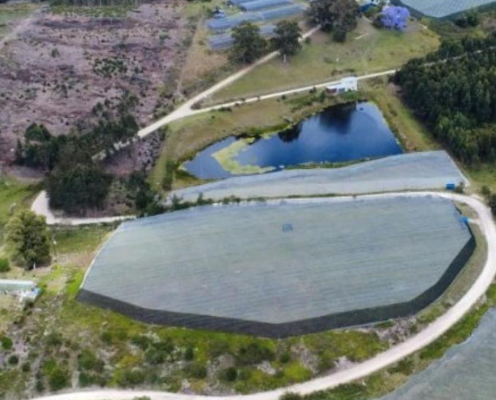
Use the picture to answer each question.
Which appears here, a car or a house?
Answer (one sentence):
Looking from above, you can make out a house.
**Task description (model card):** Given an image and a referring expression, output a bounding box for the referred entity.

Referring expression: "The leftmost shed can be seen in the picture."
[0,274,40,293]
